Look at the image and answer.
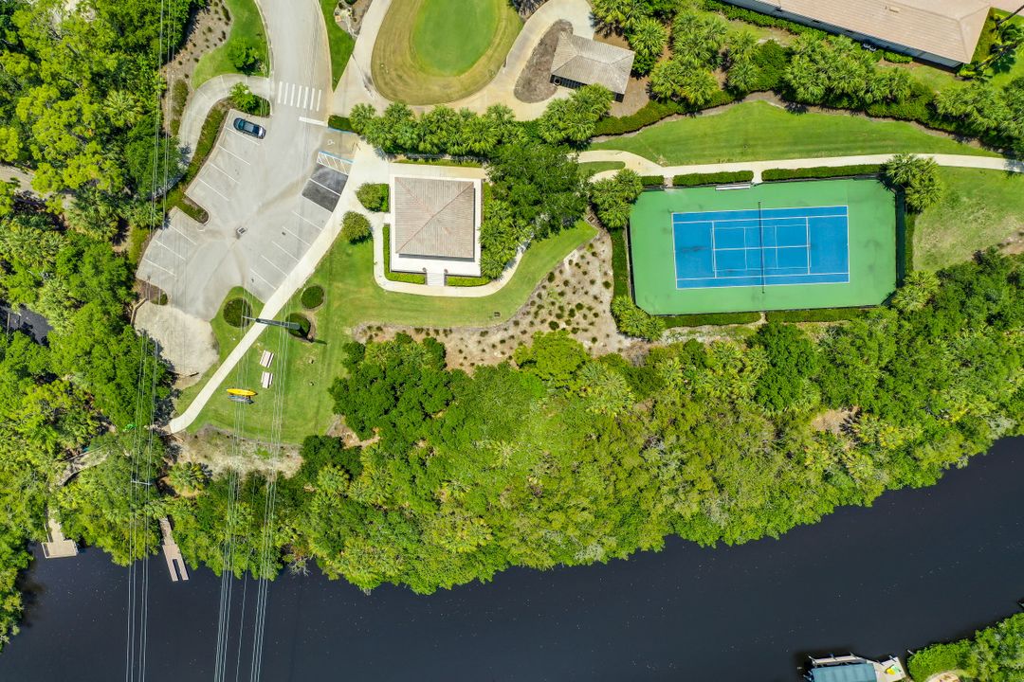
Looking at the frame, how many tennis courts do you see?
1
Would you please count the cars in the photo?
1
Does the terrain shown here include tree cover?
Yes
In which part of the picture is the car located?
top left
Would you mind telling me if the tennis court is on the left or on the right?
right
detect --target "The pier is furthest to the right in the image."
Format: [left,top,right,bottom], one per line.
[159,516,189,582]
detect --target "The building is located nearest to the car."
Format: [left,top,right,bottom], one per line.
[384,175,482,287]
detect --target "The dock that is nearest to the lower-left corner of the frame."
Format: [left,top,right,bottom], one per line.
[40,505,82,559]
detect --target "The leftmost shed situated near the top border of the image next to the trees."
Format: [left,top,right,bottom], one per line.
[550,29,634,99]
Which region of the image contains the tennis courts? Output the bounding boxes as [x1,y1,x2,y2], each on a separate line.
[632,178,897,315]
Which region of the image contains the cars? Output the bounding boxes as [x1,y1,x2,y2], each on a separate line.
[231,115,267,138]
